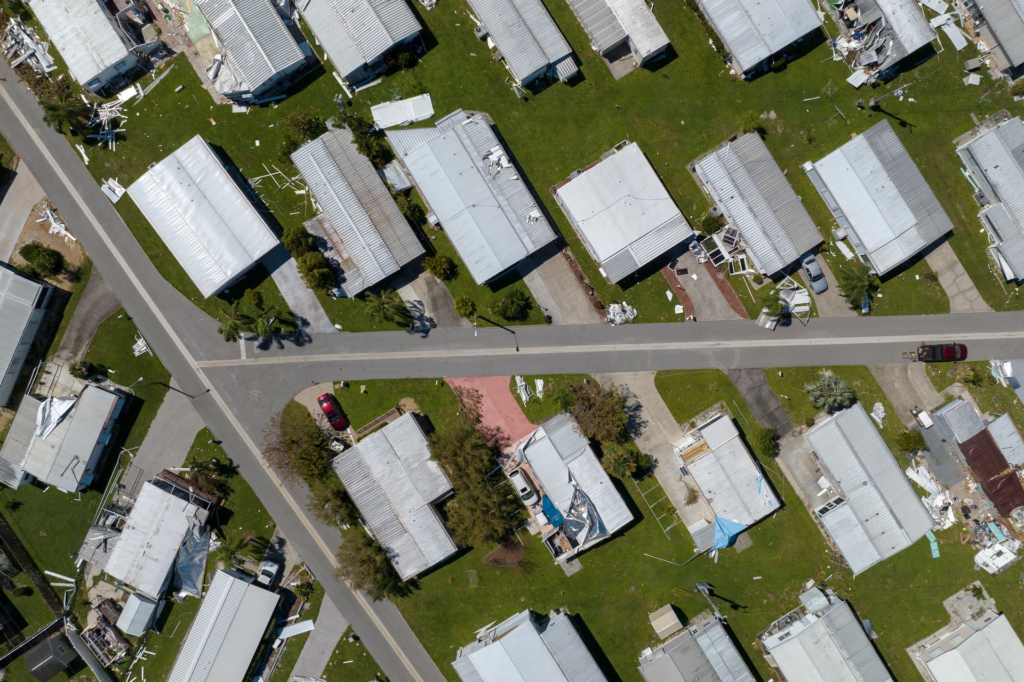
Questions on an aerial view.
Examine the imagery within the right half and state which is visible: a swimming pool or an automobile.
automobile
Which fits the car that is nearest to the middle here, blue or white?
white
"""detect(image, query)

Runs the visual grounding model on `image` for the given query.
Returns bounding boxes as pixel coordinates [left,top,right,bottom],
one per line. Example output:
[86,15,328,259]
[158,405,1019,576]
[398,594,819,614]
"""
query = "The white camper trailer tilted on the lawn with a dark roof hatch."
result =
[969,536,1020,576]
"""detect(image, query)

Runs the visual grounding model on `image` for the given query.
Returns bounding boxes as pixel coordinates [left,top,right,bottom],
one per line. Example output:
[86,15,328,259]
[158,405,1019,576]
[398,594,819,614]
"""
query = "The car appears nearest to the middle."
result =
[507,465,539,508]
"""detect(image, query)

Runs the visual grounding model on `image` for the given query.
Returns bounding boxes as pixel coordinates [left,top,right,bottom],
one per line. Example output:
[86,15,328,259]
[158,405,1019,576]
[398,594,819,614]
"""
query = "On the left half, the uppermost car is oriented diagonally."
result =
[317,391,350,433]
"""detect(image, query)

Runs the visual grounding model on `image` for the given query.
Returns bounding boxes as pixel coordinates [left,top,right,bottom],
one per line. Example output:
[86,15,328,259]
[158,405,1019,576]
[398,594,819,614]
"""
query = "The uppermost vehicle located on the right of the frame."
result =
[799,250,827,296]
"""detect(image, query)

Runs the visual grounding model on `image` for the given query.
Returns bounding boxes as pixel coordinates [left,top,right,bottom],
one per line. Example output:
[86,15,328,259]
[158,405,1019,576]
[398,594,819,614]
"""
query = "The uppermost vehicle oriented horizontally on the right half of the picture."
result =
[915,341,968,363]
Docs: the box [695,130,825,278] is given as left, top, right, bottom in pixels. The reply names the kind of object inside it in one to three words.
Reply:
house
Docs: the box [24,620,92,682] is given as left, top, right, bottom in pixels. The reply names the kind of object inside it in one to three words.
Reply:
shed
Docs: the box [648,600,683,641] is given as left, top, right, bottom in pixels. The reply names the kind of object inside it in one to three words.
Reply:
shed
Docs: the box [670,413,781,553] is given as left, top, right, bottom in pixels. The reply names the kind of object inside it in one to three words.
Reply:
house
